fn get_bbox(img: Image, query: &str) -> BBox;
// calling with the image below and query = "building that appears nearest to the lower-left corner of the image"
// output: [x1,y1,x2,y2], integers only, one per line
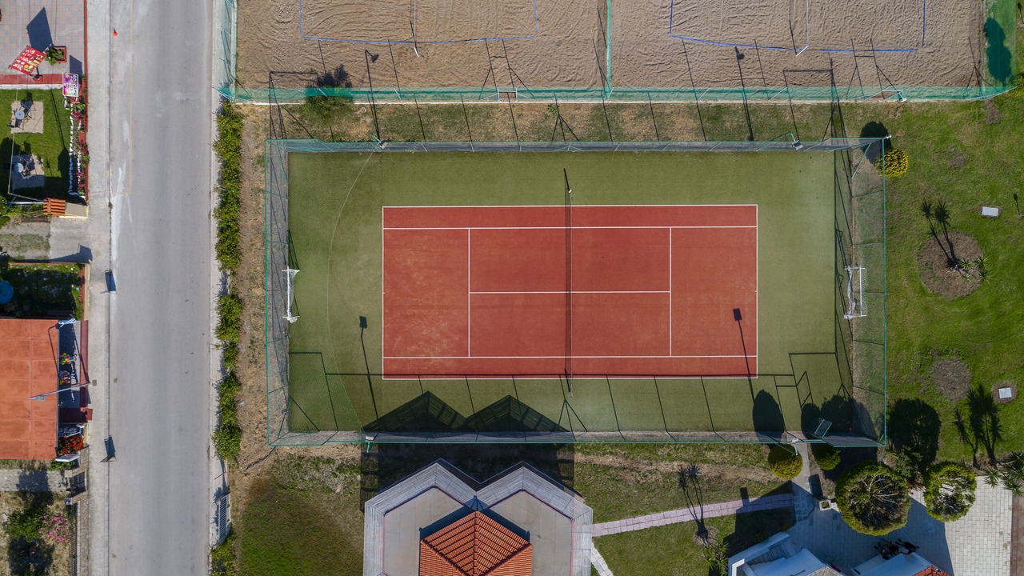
[0,319,81,460]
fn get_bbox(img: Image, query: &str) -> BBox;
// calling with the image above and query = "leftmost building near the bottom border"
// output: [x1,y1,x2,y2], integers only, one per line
[364,459,593,576]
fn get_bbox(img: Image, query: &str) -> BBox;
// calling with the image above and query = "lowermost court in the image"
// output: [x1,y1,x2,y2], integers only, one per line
[288,152,852,432]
